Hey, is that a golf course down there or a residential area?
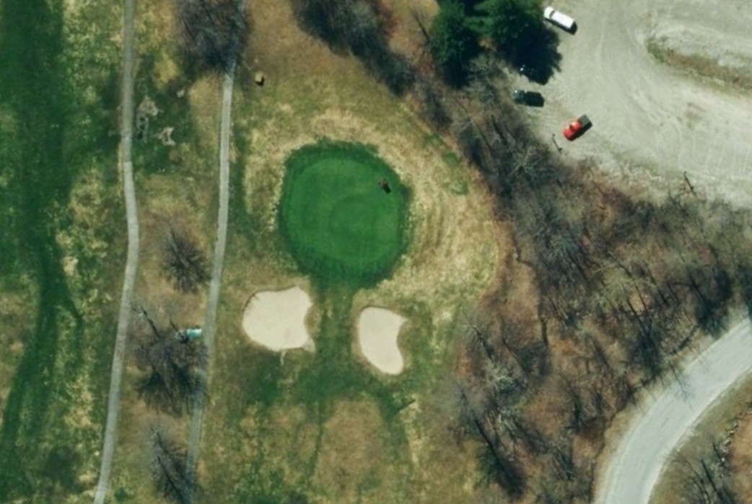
golf course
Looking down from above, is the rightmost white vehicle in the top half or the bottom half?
top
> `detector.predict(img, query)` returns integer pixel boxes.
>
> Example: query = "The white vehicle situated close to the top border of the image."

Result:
[543,7,576,34]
